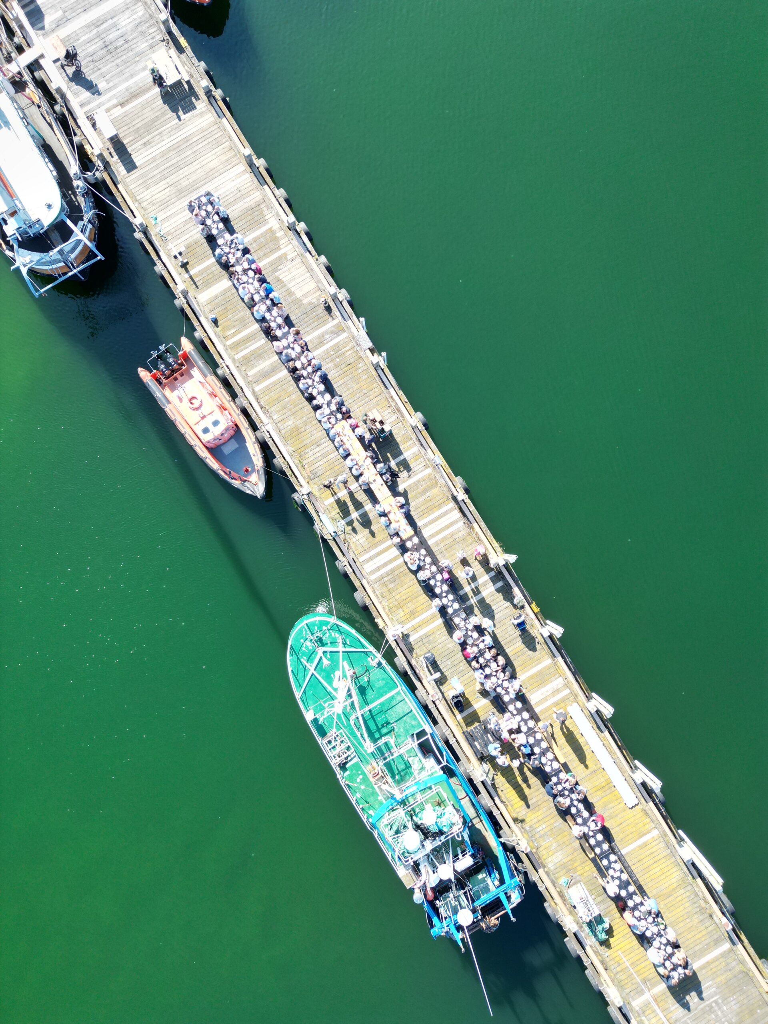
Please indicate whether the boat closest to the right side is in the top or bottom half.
bottom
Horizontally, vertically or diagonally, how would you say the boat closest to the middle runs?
diagonally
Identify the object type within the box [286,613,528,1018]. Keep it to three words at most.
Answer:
boat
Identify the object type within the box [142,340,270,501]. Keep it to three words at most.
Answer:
boat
